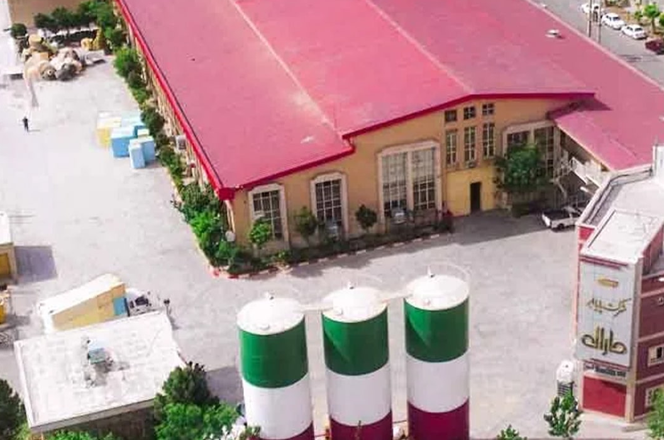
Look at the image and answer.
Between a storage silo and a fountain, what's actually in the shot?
storage silo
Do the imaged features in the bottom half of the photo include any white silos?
Yes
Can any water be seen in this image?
No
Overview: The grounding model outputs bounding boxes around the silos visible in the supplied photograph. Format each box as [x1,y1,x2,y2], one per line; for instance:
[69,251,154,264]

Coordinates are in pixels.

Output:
[405,268,471,440]
[238,291,313,440]
[323,281,393,440]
